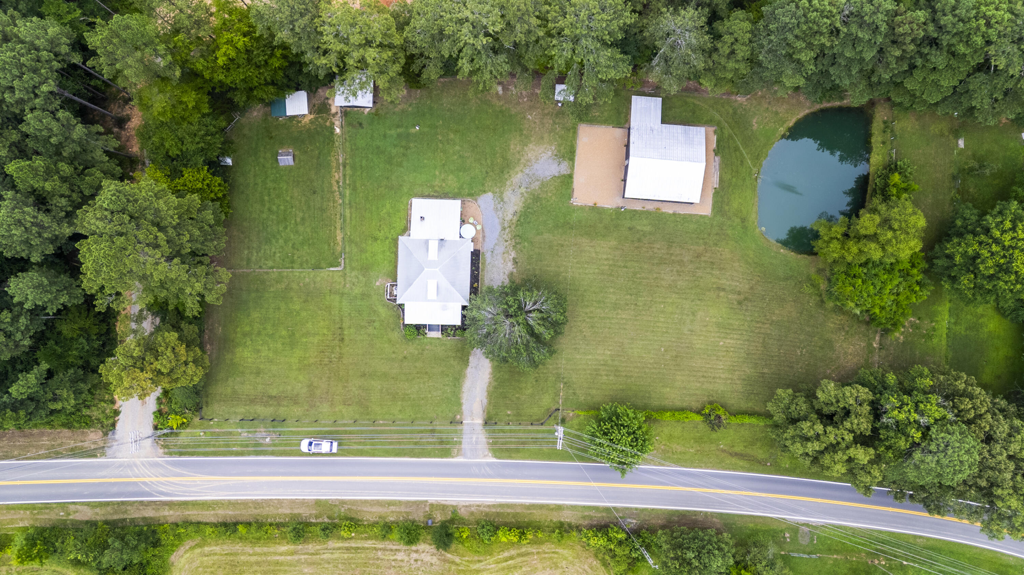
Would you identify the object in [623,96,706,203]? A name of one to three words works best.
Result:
barn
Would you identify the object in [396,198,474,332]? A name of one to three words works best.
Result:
house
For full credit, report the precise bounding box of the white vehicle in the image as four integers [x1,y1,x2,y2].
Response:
[301,438,338,456]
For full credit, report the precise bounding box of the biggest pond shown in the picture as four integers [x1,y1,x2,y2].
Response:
[756,106,871,255]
